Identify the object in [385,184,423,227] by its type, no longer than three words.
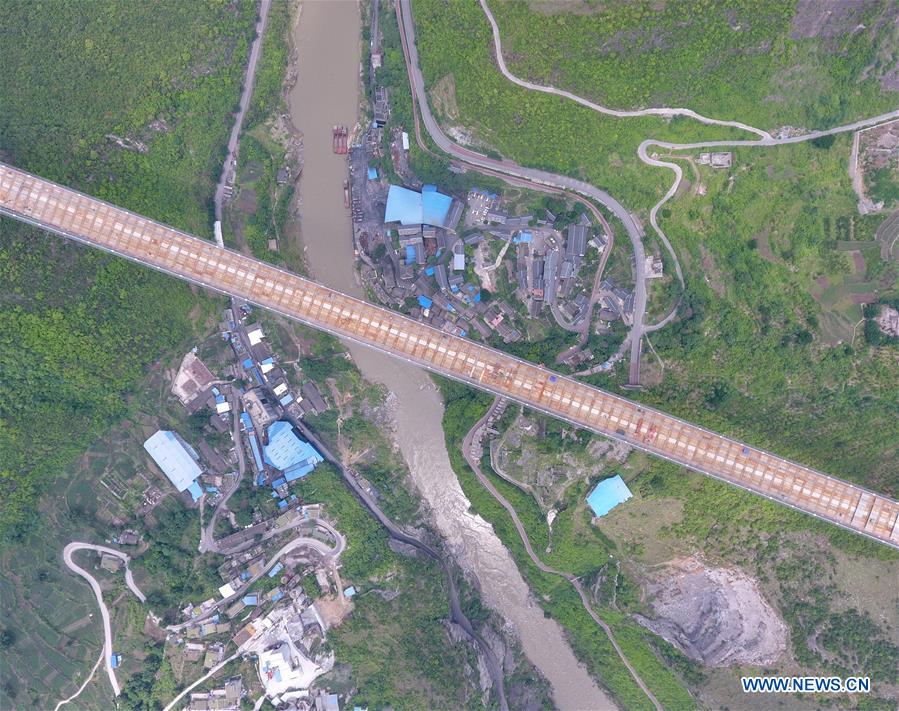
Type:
building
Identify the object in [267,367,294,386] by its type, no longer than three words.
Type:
house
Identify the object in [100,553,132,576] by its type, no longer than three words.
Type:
house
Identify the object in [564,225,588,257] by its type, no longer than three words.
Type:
building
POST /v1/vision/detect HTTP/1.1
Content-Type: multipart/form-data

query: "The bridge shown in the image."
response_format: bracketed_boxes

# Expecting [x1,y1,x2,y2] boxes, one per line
[0,164,899,552]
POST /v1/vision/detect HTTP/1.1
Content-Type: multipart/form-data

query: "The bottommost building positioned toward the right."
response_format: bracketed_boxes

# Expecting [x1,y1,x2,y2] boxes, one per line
[583,473,633,518]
